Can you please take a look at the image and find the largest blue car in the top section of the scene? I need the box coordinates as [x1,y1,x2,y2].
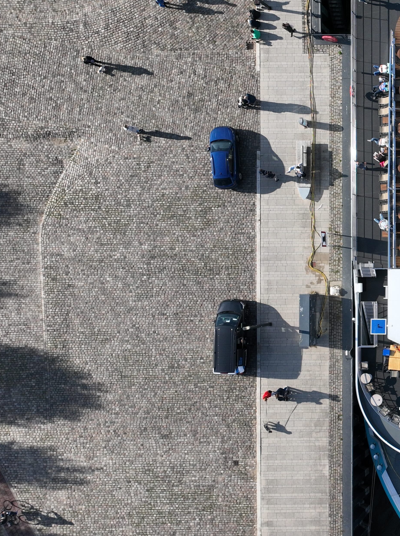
[206,129,244,193]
